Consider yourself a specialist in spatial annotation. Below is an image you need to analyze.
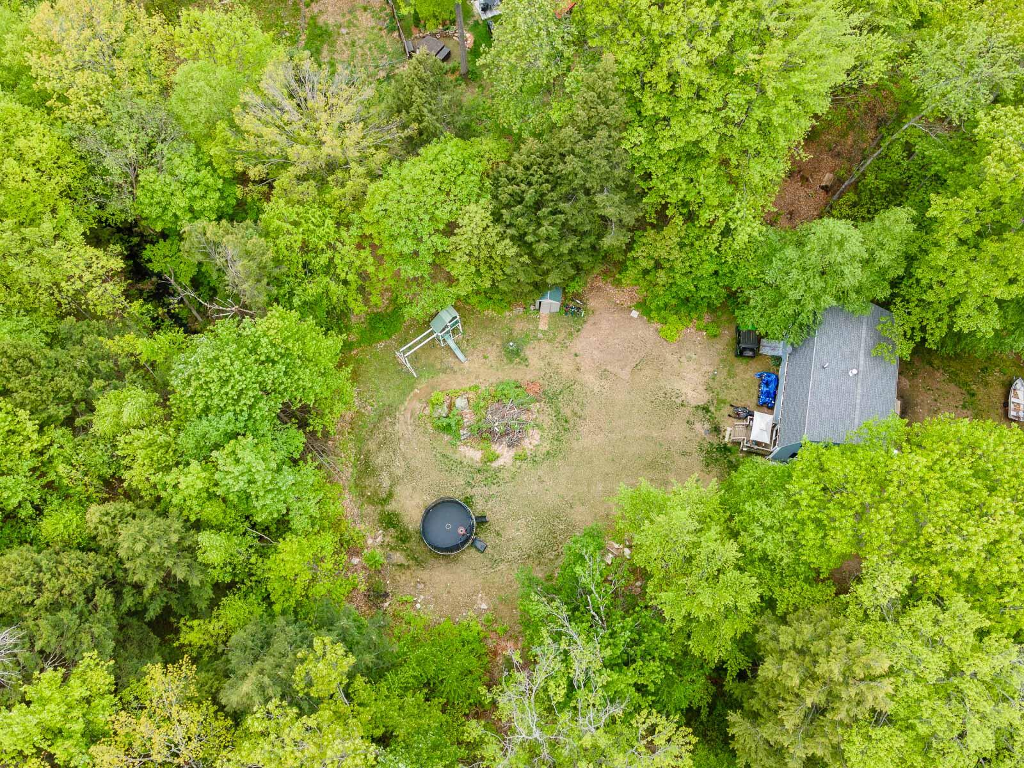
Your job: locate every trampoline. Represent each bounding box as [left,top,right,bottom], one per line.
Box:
[419,499,475,557]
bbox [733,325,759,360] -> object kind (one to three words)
vehicle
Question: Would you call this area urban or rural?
rural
